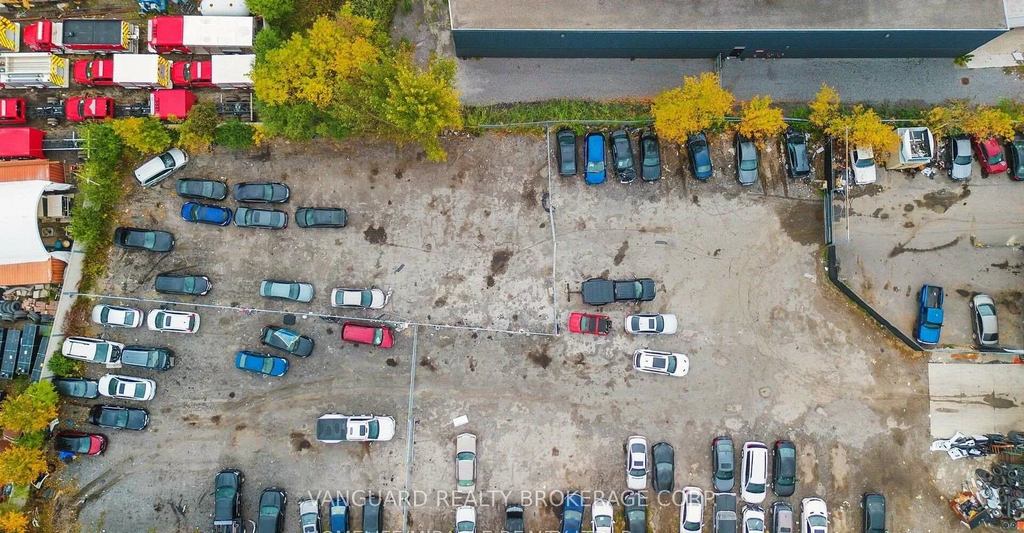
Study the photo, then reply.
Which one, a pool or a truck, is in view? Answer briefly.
truck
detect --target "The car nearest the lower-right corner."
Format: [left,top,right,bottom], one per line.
[861,492,889,533]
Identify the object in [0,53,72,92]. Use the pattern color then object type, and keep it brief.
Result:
white truck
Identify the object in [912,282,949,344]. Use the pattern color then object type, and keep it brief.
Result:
blue vehicle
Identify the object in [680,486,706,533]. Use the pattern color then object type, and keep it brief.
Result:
white car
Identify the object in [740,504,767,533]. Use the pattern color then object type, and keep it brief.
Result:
white car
